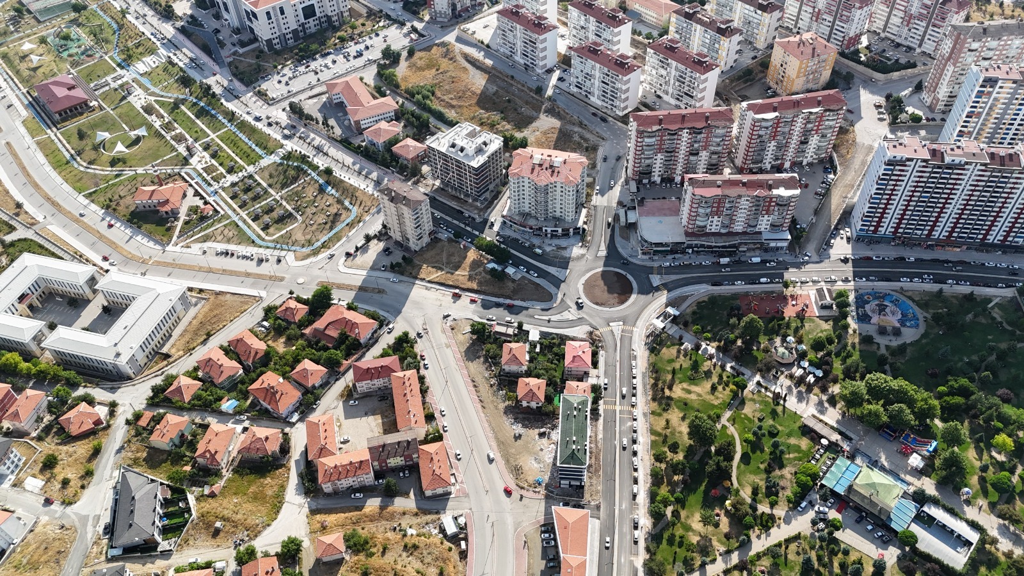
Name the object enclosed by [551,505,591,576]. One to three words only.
building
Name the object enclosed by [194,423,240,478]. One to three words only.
house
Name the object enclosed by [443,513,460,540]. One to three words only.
shed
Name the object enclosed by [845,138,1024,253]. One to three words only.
building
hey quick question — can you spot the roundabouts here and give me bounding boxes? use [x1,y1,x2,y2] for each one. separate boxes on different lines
[579,268,637,309]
